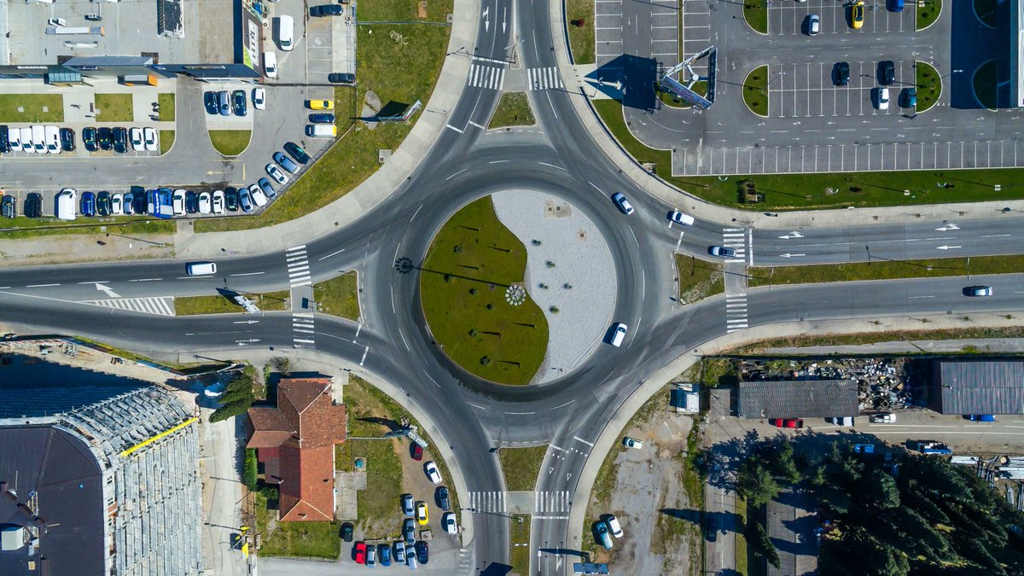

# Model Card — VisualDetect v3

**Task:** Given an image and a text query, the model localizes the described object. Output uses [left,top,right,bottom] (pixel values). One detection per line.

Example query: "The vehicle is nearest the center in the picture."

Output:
[610,321,627,347]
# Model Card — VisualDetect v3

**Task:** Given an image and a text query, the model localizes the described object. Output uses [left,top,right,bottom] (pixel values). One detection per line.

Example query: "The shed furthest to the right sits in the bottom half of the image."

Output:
[923,357,1024,415]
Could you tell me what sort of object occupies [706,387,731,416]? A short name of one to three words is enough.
shed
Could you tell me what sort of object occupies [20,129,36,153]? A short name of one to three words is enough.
vehicle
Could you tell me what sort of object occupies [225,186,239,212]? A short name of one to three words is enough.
car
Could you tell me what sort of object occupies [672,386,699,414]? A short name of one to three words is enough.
shed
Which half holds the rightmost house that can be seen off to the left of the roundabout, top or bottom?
bottom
